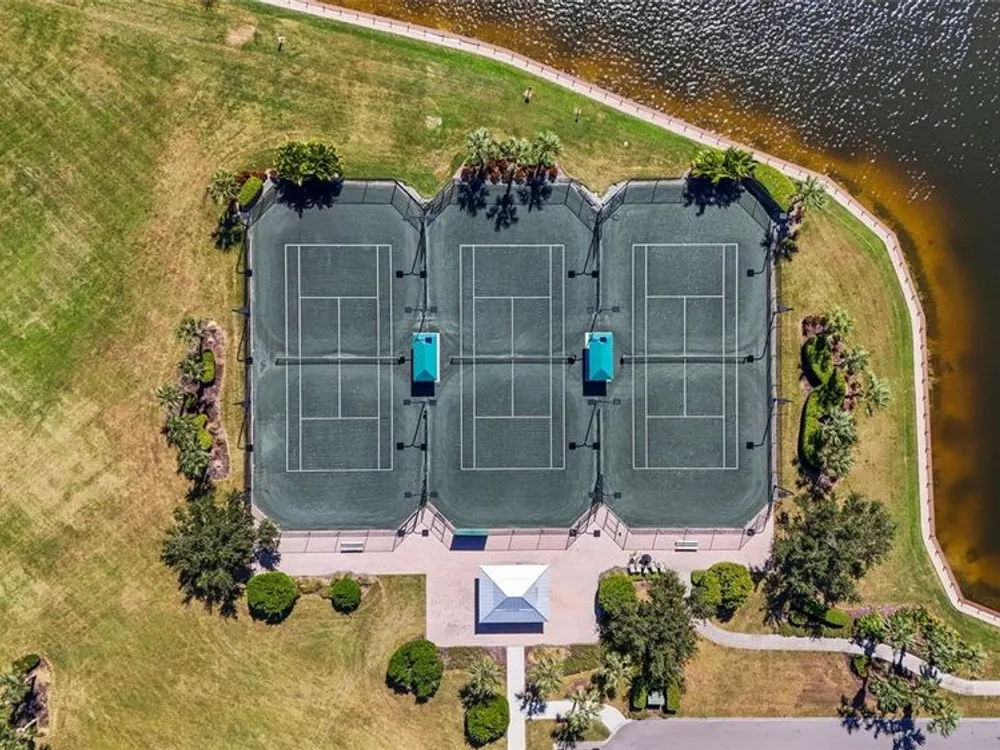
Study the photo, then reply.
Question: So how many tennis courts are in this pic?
3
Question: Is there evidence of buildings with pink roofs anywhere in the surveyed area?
No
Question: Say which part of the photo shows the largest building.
bottom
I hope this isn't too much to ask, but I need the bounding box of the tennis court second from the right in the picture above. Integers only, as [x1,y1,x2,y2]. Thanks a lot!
[425,183,600,532]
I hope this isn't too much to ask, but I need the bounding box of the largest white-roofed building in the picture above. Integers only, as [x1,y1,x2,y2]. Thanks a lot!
[478,564,550,623]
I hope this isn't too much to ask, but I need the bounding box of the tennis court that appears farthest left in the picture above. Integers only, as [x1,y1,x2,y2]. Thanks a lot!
[248,183,426,532]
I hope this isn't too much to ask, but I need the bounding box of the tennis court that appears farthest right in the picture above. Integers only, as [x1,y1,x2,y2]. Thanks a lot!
[598,183,777,532]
